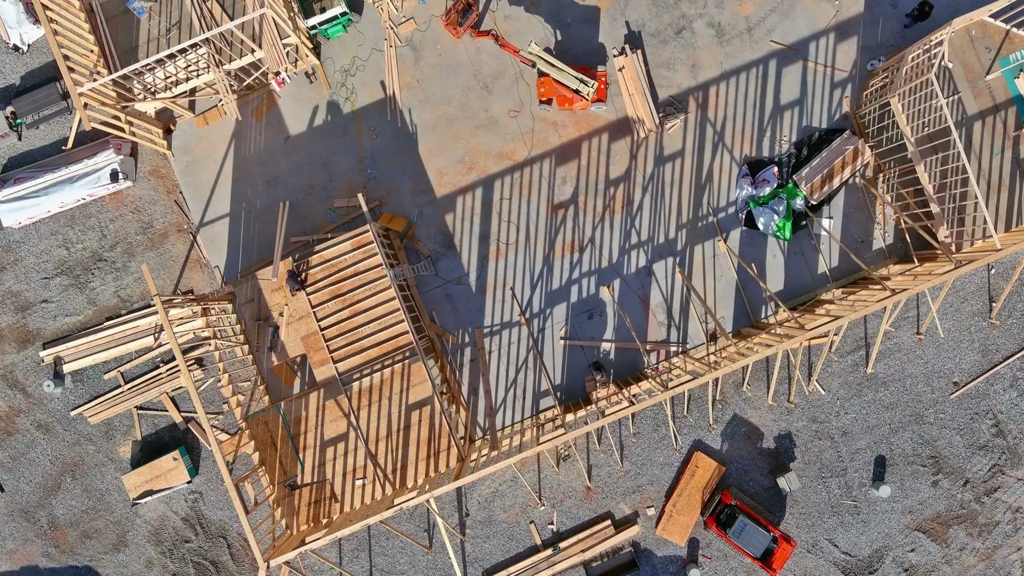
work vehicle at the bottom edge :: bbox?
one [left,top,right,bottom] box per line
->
[697,485,800,576]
